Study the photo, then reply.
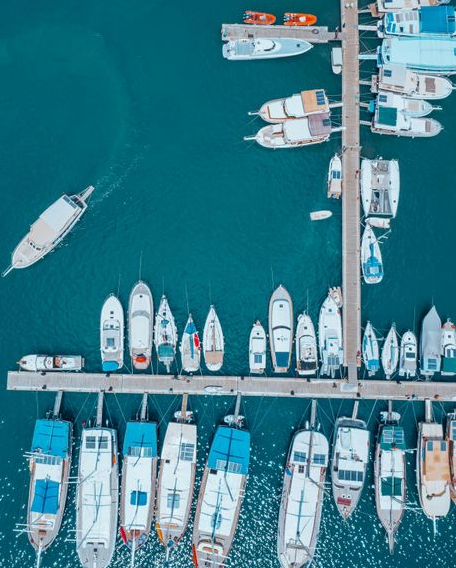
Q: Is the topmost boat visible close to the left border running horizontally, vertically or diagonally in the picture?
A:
diagonally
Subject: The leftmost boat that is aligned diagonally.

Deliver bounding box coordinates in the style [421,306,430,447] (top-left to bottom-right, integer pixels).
[4,191,94,274]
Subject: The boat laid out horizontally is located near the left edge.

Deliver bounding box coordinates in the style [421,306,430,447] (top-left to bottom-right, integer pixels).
[15,354,92,373]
